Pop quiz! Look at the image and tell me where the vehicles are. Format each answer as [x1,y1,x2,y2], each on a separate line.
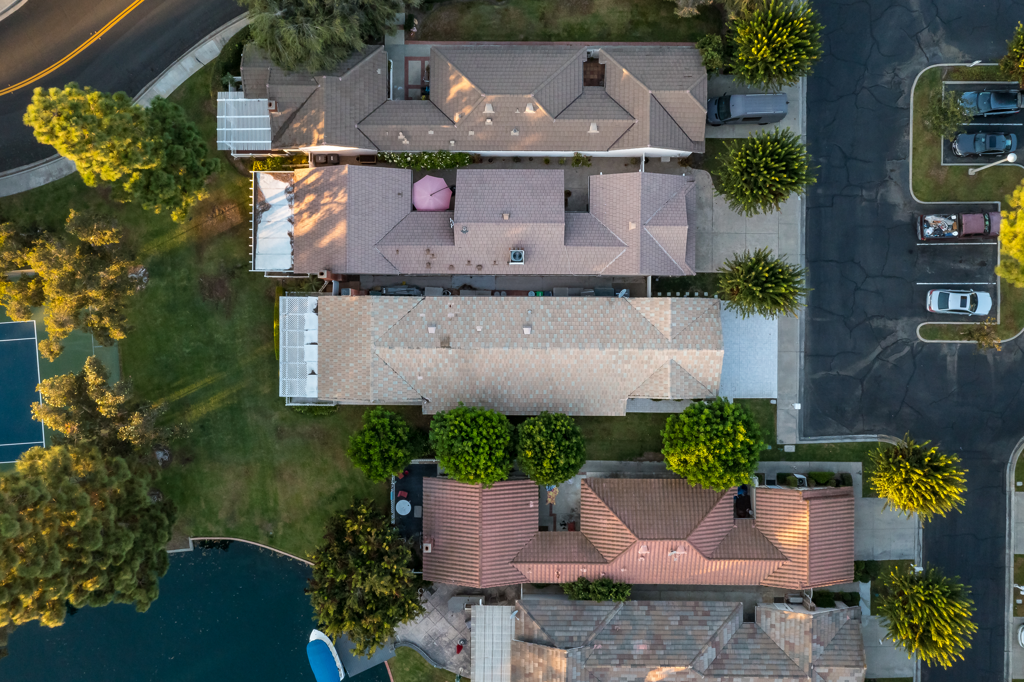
[912,207,1002,240]
[954,86,1024,119]
[707,91,787,126]
[925,287,993,317]
[951,126,1019,158]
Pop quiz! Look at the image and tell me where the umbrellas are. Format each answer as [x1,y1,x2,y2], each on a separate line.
[459,638,467,657]
[413,176,456,211]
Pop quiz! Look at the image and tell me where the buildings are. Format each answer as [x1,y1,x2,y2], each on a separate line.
[294,164,697,284]
[317,289,726,417]
[512,590,866,682]
[422,474,855,590]
[238,43,709,159]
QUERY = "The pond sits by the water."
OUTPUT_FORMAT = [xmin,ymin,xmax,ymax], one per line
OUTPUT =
[0,540,391,682]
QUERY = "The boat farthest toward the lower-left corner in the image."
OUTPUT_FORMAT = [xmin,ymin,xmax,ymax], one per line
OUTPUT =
[303,627,344,682]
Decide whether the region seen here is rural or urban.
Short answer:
urban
